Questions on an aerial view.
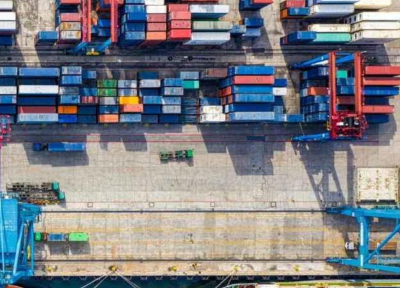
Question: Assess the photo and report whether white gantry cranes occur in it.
No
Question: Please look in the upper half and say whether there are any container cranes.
Yes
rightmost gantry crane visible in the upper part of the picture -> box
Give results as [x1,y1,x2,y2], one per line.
[286,50,368,145]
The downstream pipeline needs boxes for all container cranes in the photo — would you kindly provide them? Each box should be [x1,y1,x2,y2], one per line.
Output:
[62,0,119,56]
[0,173,40,288]
[286,50,368,145]
[325,207,400,278]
